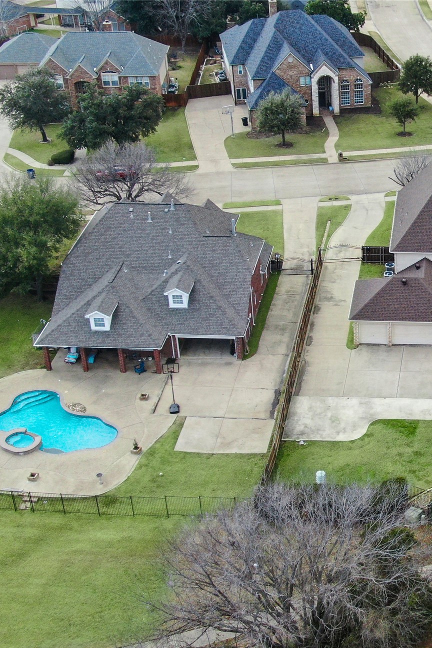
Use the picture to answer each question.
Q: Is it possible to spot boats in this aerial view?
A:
No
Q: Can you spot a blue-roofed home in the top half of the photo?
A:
Yes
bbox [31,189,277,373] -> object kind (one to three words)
house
